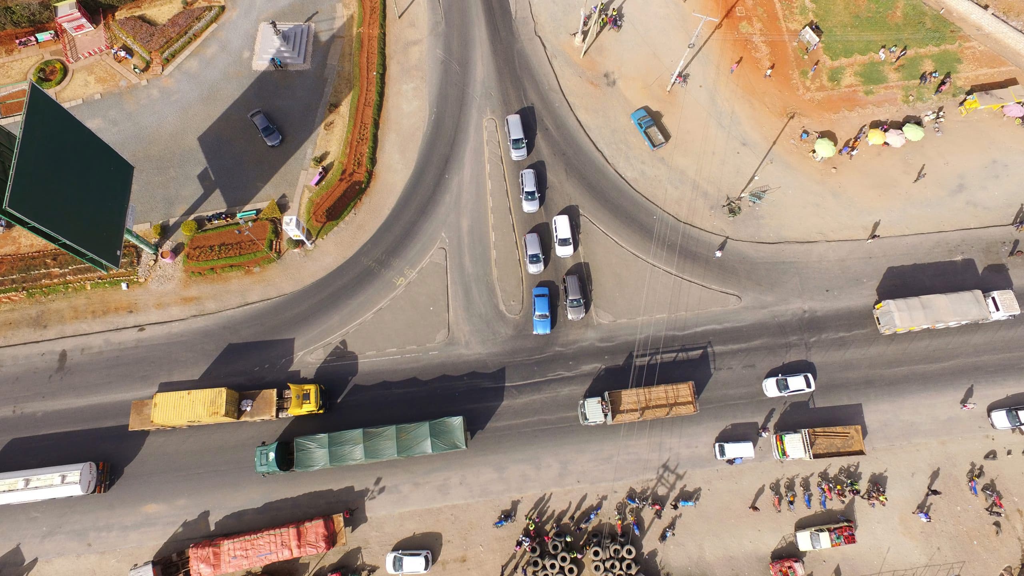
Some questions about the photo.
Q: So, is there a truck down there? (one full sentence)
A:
Yes, I can see a truck in this picture.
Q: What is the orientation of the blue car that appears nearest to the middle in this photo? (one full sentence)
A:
Seen from above, the blue car that appears nearest to the middle lies vertically.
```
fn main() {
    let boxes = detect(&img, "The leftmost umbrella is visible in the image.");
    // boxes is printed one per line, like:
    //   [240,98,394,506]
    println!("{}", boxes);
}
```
[813,139,832,159]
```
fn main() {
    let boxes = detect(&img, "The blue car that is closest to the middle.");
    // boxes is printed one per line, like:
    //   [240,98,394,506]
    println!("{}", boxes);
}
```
[531,287,554,335]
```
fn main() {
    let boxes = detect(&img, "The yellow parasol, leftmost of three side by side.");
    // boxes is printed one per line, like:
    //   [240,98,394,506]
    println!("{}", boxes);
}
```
[864,130,883,147]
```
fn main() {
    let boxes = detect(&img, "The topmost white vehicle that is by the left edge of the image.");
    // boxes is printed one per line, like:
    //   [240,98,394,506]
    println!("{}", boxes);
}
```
[0,461,109,505]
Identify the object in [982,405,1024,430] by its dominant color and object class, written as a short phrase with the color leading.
white car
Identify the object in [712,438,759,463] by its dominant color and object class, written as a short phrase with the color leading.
white vehicle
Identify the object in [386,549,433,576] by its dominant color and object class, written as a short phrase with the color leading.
white car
